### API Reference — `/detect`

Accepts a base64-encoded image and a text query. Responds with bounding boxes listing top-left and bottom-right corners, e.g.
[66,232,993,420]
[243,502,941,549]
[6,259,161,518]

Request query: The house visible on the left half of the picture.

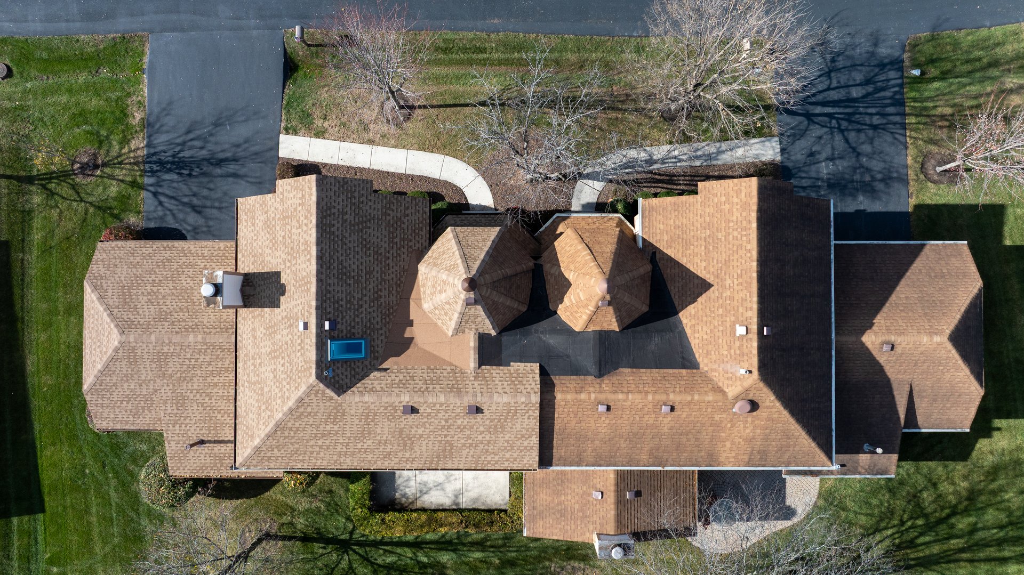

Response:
[83,174,540,479]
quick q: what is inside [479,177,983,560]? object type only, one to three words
house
